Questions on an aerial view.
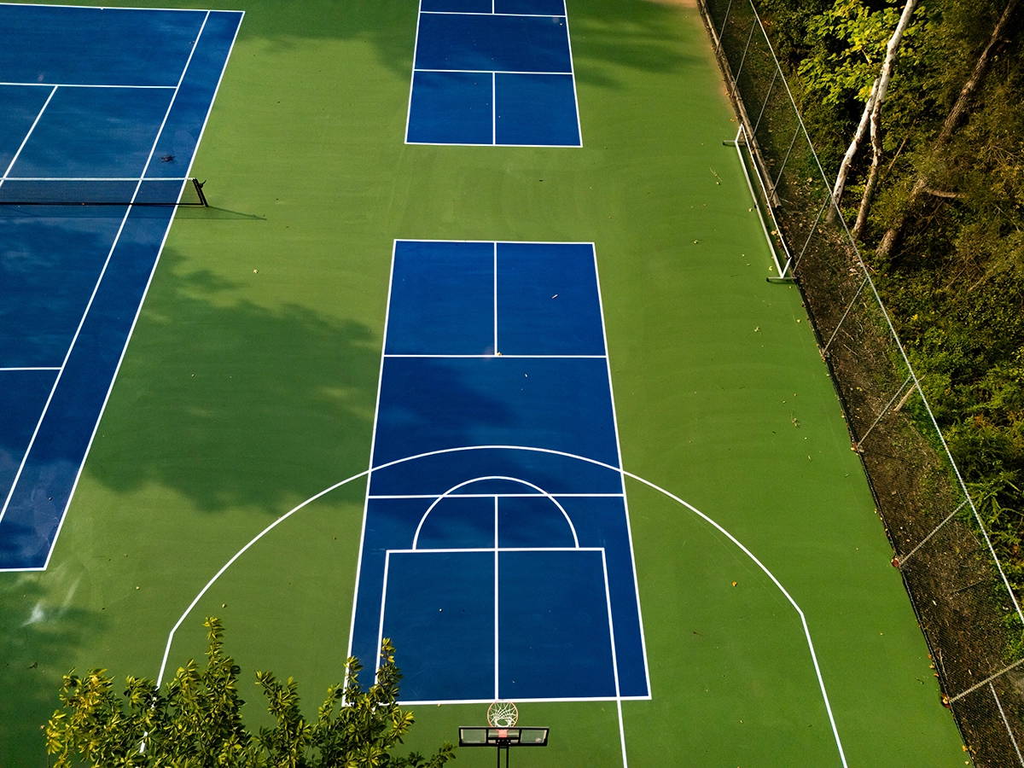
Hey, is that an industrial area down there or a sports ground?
sports ground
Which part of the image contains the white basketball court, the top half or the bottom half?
bottom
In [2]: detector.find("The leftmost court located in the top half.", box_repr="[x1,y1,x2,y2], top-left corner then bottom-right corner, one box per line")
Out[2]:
[0,6,245,570]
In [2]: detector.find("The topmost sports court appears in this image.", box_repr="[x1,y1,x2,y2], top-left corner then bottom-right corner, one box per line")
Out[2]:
[405,0,582,147]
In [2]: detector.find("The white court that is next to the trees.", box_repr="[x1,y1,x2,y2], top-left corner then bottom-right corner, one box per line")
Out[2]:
[137,445,847,768]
